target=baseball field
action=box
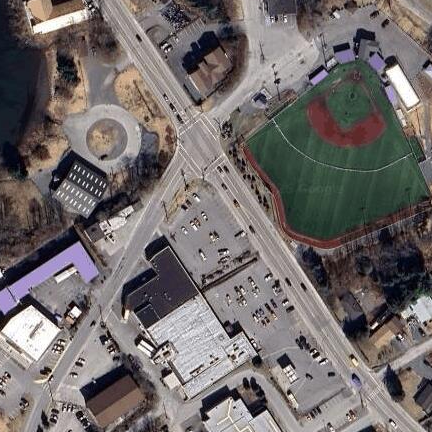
[242,60,432,249]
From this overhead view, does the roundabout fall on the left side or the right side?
left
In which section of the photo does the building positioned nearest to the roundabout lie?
left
